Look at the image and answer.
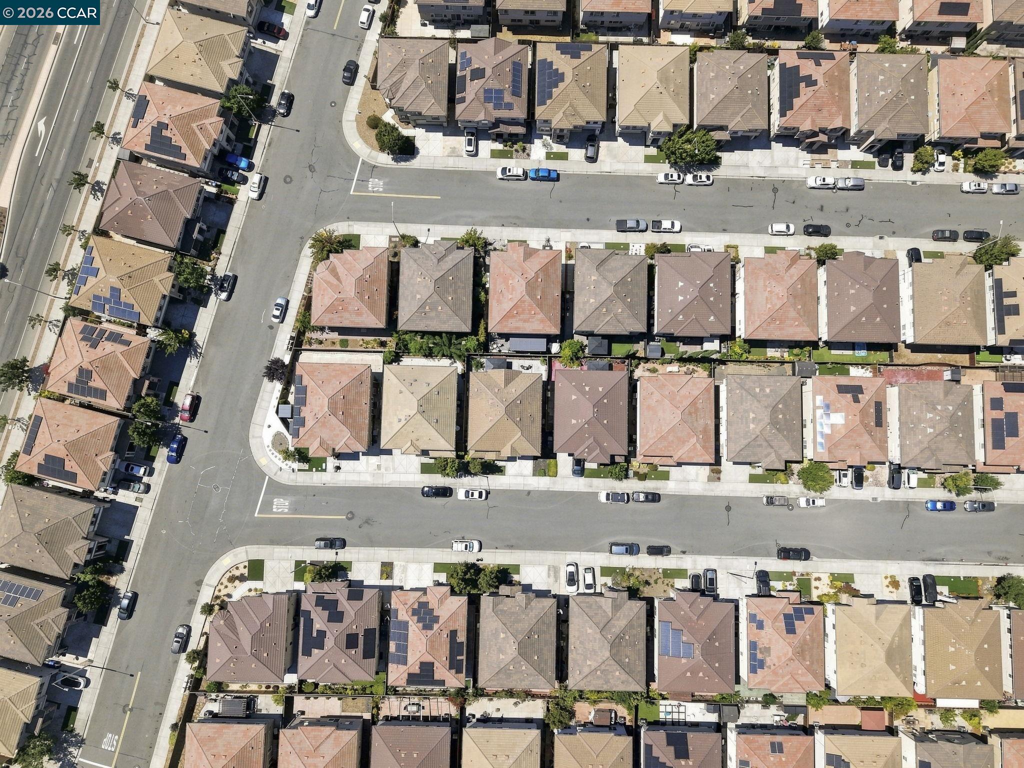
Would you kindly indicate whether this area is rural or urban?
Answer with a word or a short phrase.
urban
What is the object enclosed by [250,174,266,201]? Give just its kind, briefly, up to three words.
car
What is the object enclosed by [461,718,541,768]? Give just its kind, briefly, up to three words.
house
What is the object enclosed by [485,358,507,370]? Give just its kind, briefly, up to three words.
gazebo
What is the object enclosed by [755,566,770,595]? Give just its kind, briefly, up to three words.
vehicle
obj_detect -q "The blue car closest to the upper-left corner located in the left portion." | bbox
[226,154,255,171]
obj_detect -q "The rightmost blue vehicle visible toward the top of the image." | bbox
[528,168,560,182]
